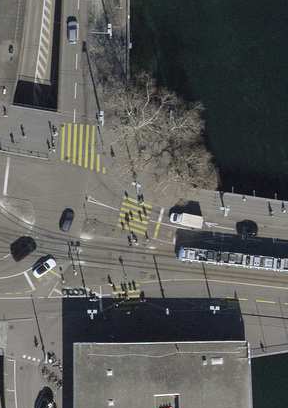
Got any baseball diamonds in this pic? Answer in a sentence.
No, no baseball diamond is visible in the view.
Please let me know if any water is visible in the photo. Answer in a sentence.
Yes, the picture does contain water.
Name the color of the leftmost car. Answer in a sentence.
The leftmost car is black.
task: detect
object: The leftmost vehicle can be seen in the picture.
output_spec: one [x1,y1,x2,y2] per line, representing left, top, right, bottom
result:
[14,244,38,264]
